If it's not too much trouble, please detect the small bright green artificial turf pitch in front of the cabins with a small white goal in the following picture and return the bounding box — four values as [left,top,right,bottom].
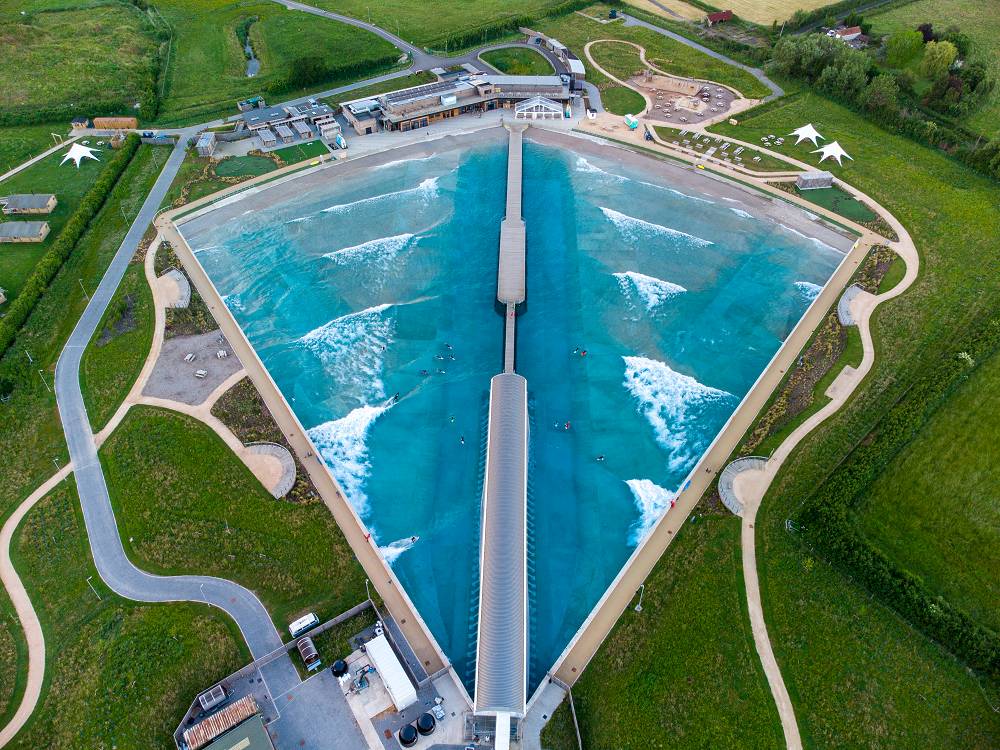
[271,140,329,166]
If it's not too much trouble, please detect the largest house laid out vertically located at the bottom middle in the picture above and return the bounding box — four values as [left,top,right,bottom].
[468,372,533,719]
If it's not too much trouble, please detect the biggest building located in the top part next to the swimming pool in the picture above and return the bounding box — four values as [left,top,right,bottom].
[339,63,571,135]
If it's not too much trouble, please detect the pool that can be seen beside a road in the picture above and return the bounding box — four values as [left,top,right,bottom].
[170,125,862,714]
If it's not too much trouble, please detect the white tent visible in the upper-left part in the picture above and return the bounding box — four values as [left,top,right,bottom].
[60,141,103,168]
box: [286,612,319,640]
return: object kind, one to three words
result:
camper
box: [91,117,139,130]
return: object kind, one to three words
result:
building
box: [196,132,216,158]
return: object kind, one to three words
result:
shed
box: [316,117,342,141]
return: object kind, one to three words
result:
building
